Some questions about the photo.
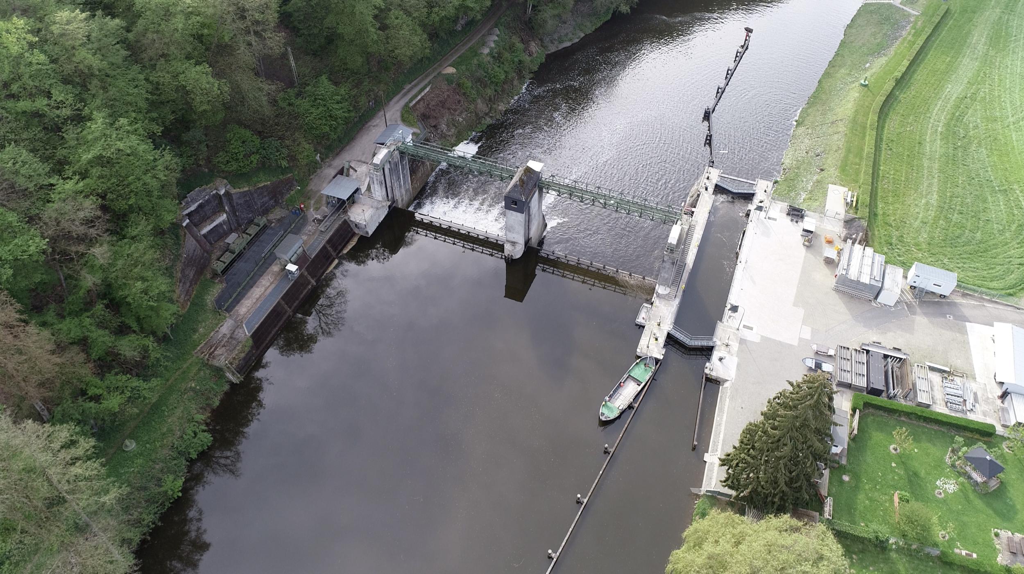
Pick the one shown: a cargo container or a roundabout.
cargo container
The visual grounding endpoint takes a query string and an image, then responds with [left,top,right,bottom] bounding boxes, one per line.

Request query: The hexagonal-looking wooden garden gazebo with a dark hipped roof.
[958,448,1005,491]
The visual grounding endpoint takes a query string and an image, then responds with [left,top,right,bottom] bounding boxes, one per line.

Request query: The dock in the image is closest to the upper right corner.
[699,37,751,168]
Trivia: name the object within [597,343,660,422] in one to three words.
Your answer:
boat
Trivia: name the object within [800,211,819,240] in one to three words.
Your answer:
vehicle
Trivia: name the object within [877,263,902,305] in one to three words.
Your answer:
shipping container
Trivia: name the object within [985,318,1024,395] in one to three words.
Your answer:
shed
